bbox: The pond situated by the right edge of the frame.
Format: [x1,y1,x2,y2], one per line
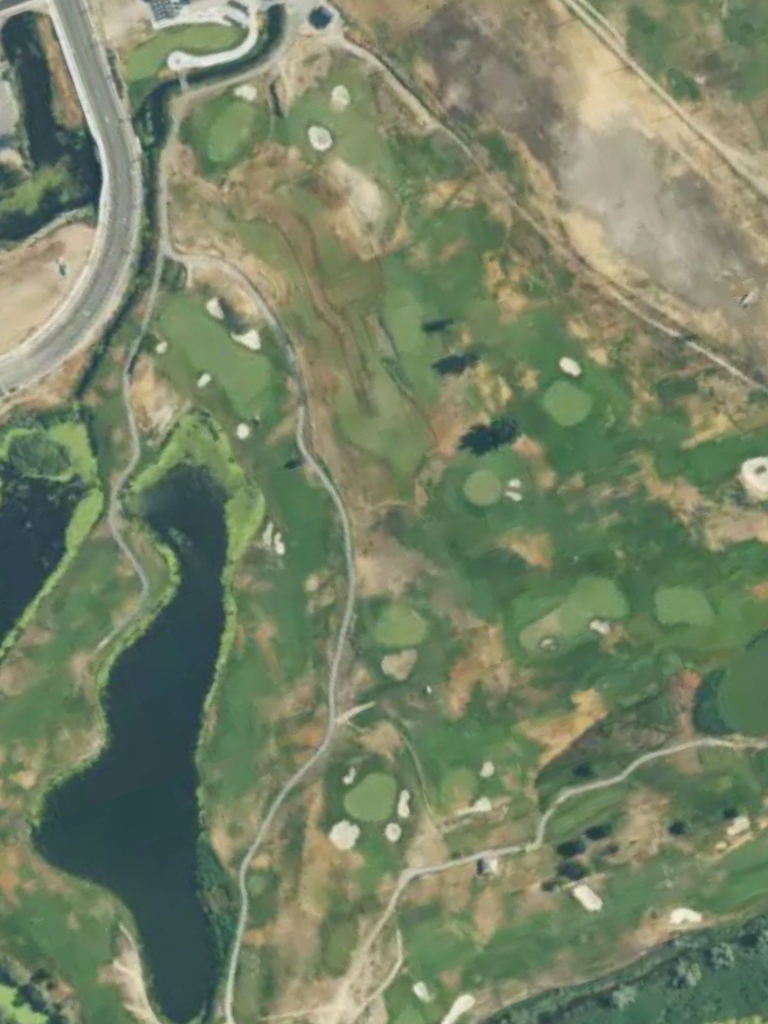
[696,635,768,735]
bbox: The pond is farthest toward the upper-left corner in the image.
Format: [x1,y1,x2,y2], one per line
[0,12,98,243]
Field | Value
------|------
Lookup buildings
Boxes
[154,0,189,25]
[481,860,497,876]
